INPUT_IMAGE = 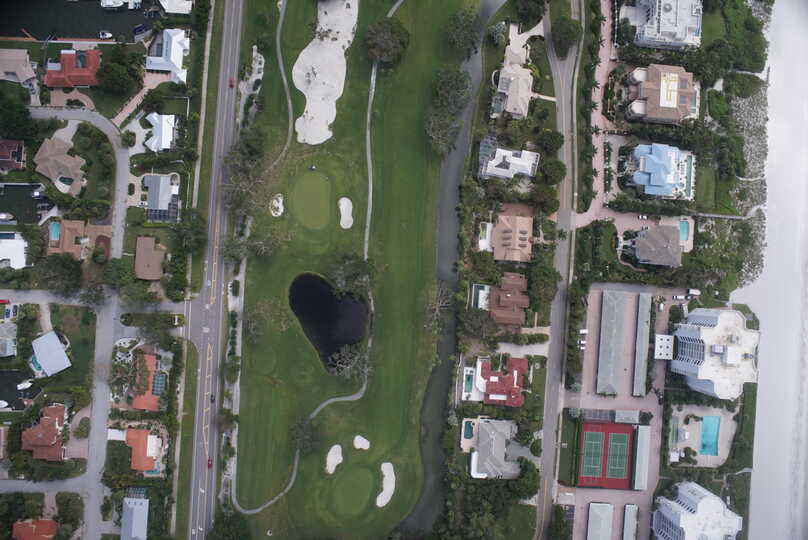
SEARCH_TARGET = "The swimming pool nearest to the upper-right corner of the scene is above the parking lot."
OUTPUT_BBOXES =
[680,81,700,122]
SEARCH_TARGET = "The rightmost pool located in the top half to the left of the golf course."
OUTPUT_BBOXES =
[148,33,163,57]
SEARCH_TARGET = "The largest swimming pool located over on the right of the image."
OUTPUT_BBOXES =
[669,405,737,467]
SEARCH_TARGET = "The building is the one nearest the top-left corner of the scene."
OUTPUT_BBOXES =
[0,49,38,82]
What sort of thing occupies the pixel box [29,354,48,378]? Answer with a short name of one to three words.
swimming pool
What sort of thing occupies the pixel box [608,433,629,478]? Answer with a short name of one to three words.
tennis court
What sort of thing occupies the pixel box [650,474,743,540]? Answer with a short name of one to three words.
building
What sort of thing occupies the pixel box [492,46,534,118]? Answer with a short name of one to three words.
house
